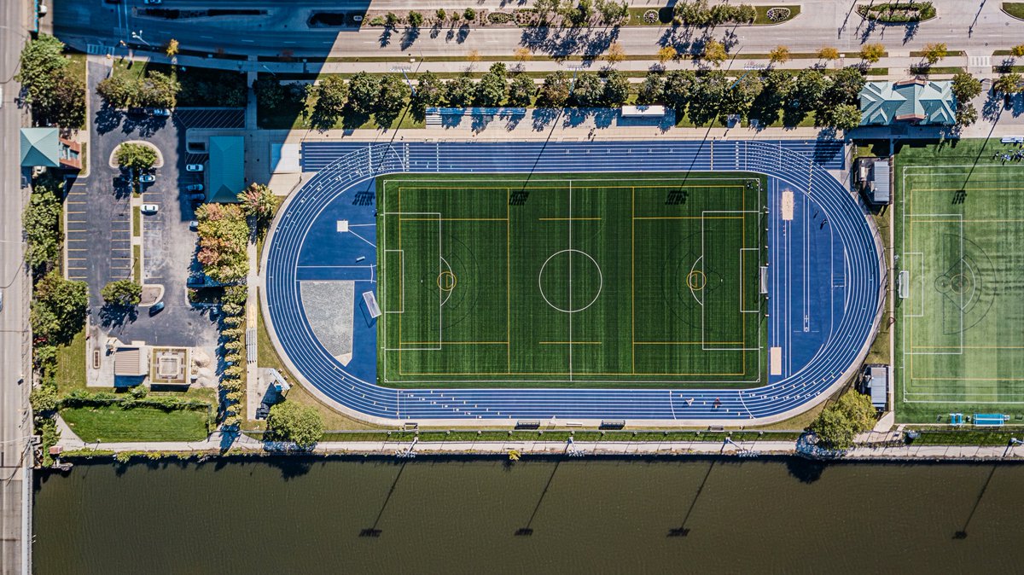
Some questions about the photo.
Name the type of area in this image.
sports ground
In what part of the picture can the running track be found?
center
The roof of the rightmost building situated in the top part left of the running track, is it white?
No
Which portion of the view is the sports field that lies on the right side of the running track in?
right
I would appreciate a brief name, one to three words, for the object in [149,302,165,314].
vehicle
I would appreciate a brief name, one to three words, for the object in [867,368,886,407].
shed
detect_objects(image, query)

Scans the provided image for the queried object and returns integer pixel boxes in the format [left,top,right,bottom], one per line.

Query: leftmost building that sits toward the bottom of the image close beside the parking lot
[115,344,150,374]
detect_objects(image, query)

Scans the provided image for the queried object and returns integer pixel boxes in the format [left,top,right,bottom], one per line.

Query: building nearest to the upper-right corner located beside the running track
[856,78,959,125]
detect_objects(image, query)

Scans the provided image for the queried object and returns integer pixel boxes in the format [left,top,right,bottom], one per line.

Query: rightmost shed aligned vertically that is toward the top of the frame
[870,161,890,206]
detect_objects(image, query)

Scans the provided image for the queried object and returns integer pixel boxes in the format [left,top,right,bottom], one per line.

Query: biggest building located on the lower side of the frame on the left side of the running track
[151,345,197,385]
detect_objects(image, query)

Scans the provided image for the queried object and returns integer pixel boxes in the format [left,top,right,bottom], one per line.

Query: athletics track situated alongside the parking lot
[266,140,881,421]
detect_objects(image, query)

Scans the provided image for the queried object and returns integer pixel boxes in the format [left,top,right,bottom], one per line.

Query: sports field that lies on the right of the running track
[894,138,1024,424]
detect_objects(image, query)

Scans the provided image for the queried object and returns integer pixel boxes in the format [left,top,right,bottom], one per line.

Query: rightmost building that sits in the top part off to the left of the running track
[209,136,246,202]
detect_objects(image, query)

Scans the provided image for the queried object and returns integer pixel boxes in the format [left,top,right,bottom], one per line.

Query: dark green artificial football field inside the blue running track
[376,172,768,389]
